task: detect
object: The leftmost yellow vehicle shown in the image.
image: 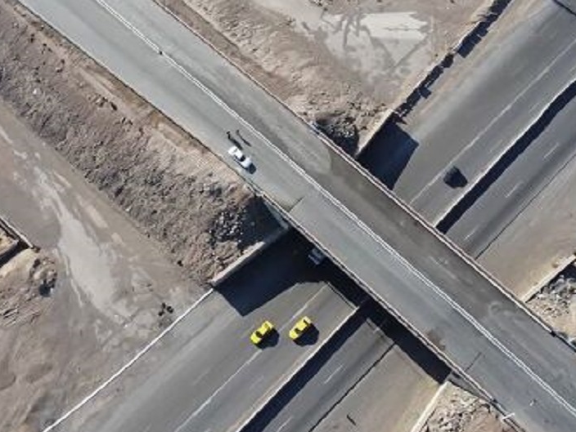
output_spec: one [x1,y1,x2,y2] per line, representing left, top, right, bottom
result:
[250,322,273,345]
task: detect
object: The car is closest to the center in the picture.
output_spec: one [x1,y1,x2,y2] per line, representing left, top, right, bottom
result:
[306,247,324,267]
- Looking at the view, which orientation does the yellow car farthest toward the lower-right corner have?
diagonally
